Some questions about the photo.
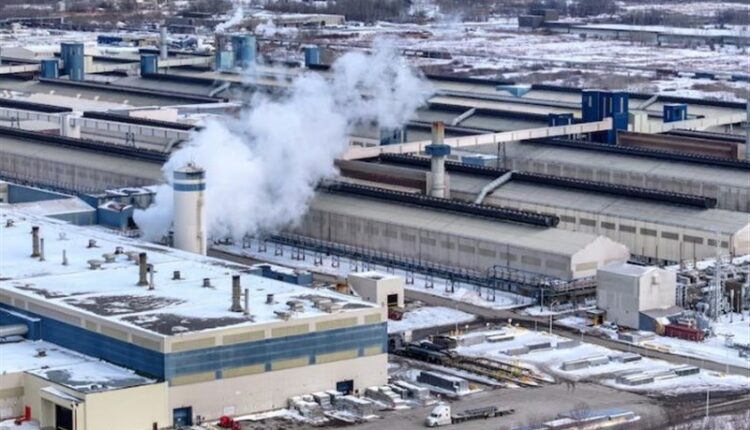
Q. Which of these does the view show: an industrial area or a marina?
industrial area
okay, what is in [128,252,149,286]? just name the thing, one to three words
chimney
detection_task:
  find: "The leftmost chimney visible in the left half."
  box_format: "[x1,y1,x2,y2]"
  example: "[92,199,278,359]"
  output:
[23,226,40,258]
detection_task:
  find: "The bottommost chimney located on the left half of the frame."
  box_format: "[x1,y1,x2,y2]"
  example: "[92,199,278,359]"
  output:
[222,275,245,314]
